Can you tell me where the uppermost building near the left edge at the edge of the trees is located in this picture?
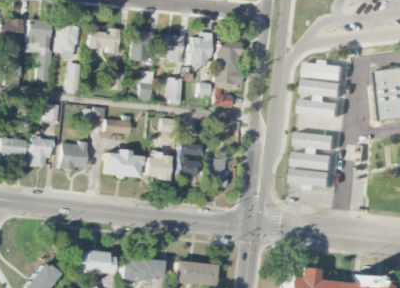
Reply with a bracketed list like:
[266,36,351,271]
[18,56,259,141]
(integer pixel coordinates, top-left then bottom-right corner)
[0,17,25,40]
